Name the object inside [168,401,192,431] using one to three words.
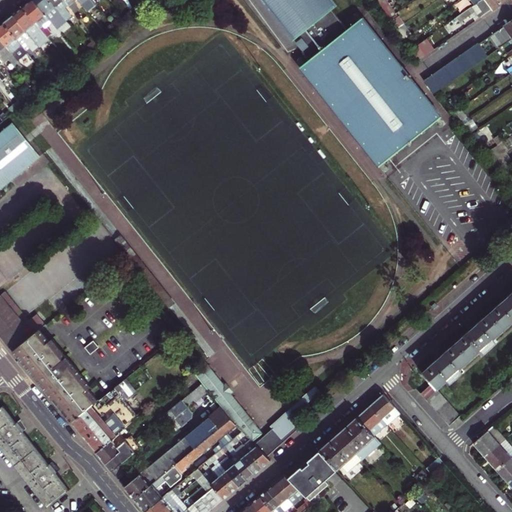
house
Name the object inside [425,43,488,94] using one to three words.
building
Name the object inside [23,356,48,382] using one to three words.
house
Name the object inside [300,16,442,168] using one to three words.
building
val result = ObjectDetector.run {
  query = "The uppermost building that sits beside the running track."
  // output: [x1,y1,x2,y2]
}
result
[261,0,337,41]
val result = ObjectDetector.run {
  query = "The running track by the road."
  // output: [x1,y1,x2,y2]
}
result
[59,28,397,384]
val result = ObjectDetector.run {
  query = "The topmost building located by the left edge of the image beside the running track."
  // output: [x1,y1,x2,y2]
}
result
[0,121,40,190]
